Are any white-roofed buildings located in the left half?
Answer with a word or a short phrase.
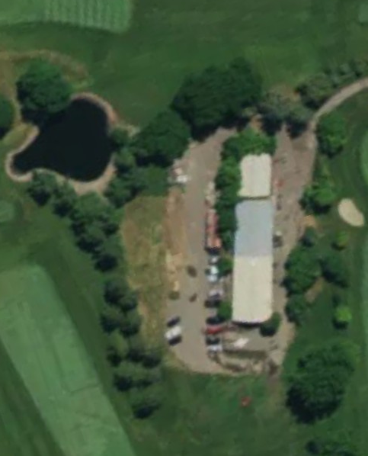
No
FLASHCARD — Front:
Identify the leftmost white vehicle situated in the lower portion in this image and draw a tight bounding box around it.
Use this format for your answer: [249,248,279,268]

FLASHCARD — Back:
[164,325,181,338]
